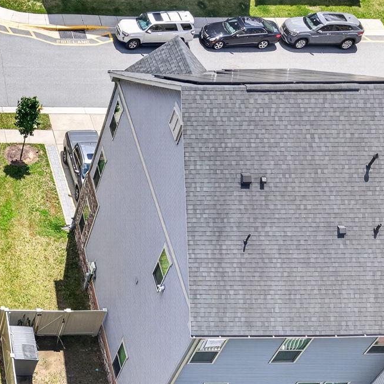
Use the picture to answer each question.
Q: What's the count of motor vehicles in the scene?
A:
4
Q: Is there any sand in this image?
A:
No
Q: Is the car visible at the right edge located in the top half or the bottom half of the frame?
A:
top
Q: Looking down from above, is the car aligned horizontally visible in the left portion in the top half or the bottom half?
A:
top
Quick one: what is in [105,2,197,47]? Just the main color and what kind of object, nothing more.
white car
